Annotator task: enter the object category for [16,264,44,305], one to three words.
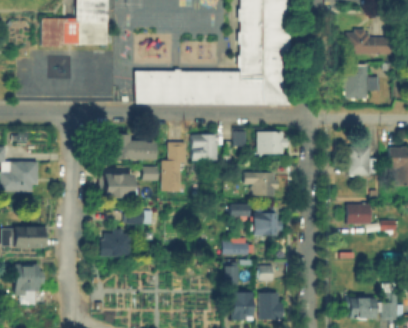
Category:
house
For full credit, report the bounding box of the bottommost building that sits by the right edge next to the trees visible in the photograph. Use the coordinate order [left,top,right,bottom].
[350,294,404,320]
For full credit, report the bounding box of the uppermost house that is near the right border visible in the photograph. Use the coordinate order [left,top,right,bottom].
[348,28,392,55]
